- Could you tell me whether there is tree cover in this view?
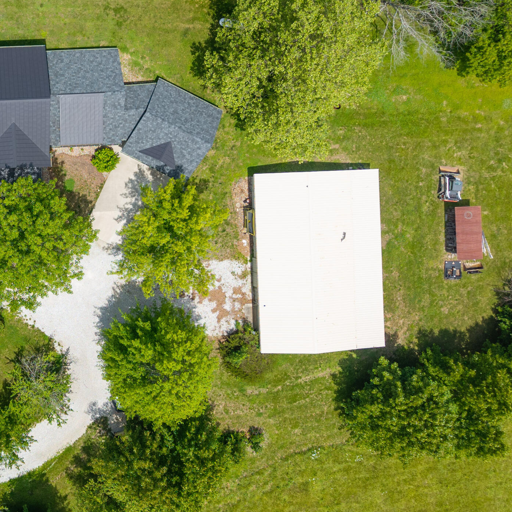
Yes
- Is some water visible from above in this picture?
No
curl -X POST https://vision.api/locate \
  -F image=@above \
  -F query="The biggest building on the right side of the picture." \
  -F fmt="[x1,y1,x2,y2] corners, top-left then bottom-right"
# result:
[246,169,386,355]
